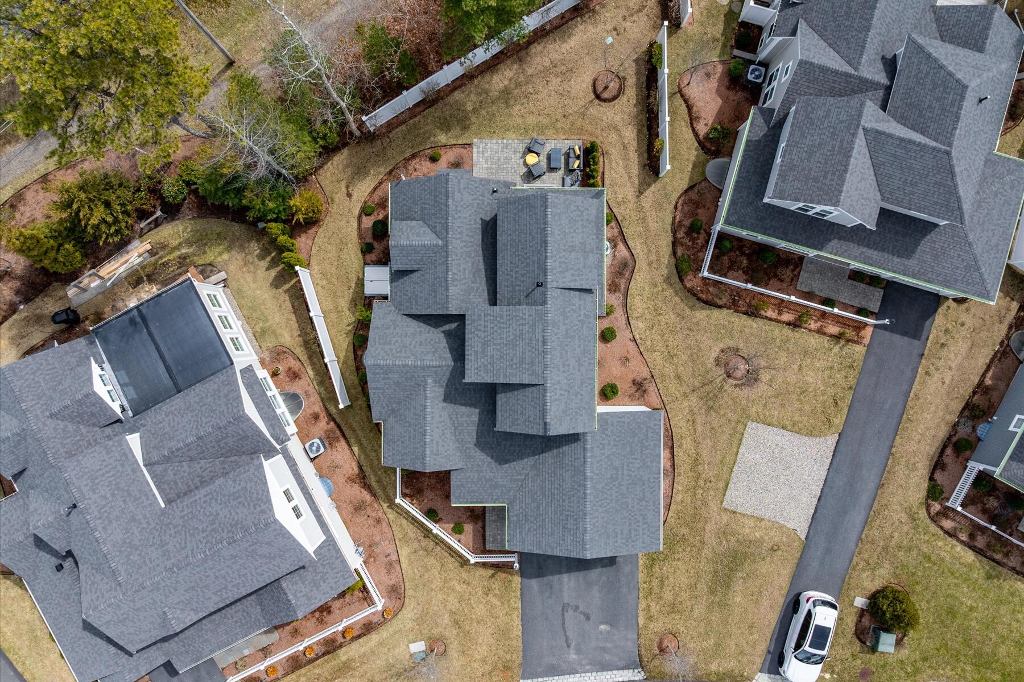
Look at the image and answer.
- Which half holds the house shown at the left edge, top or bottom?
bottom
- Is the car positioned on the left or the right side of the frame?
right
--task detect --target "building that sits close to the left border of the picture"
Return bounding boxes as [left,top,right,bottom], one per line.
[0,274,362,682]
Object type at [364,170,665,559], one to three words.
house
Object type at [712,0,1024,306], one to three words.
house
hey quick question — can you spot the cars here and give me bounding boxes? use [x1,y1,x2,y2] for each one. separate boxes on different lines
[778,592,842,682]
